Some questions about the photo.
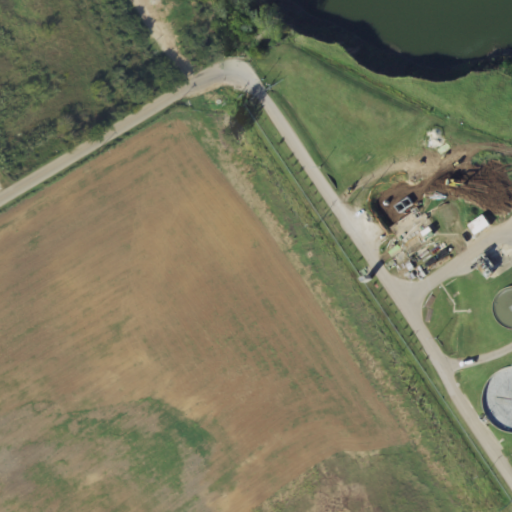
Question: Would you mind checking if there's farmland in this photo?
Yes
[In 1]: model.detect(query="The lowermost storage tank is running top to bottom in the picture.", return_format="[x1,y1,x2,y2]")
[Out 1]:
[482,366,512,432]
